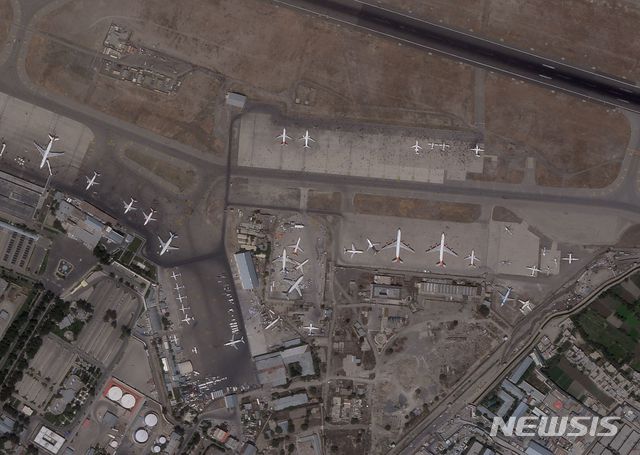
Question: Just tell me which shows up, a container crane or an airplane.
airplane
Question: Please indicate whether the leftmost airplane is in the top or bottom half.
top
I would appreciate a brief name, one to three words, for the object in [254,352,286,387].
building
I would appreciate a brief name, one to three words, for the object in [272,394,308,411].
building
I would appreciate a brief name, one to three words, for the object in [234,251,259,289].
hangar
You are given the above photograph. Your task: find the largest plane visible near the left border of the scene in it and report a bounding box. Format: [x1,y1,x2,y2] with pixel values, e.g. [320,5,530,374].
[32,136,62,168]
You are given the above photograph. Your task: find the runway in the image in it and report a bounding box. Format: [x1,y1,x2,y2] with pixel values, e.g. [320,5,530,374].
[269,0,640,112]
